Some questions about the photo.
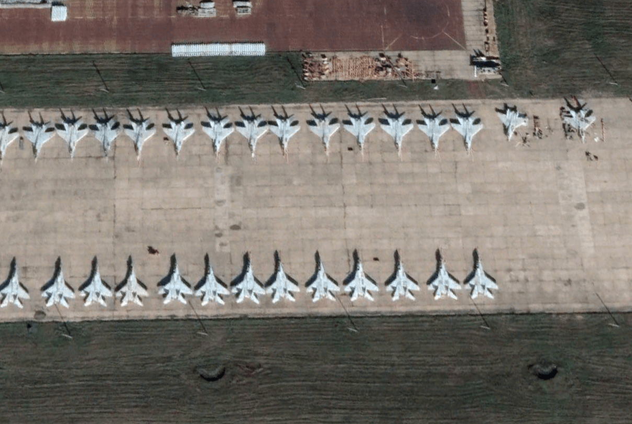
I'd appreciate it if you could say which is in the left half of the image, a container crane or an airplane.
airplane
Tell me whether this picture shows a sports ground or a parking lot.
parking lot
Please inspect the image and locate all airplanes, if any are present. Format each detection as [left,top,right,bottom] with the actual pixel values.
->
[124,117,156,168]
[196,256,229,309]
[0,122,19,169]
[380,113,414,161]
[418,112,451,161]
[80,259,113,309]
[307,254,340,305]
[345,255,378,304]
[42,260,75,309]
[451,112,484,163]
[159,257,192,306]
[497,106,528,143]
[566,108,596,146]
[386,252,420,305]
[308,112,340,161]
[56,118,89,168]
[202,115,234,163]
[0,261,30,311]
[269,115,301,165]
[235,115,268,164]
[343,113,376,162]
[91,119,123,167]
[465,252,498,303]
[163,117,195,167]
[116,259,149,308]
[428,252,461,303]
[24,120,55,168]
[231,256,266,306]
[267,255,300,305]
